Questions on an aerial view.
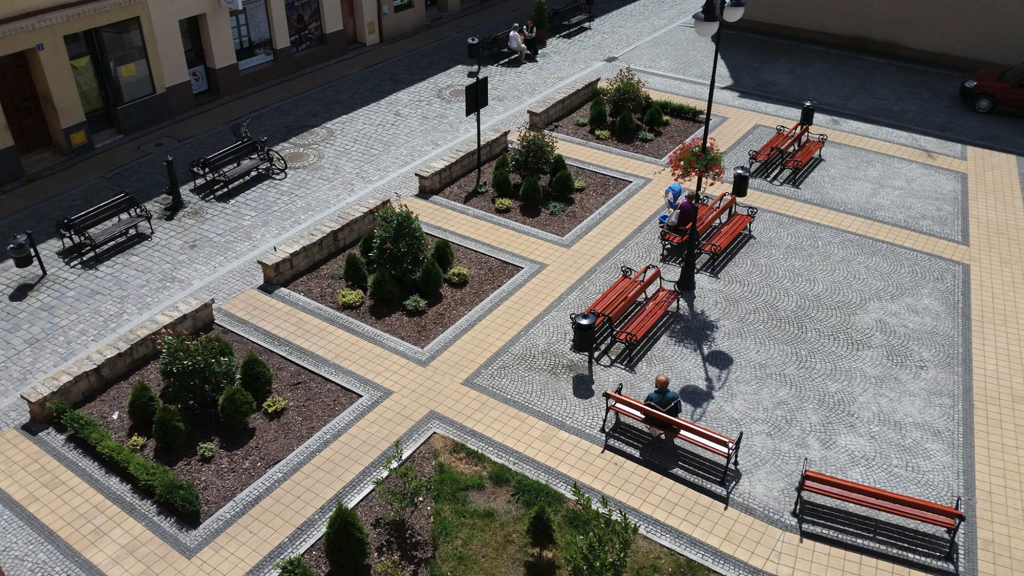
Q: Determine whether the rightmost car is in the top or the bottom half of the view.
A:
top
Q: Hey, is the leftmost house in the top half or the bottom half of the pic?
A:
top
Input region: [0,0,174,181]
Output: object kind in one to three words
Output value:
house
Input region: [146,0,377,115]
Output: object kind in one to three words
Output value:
house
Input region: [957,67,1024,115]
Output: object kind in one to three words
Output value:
car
